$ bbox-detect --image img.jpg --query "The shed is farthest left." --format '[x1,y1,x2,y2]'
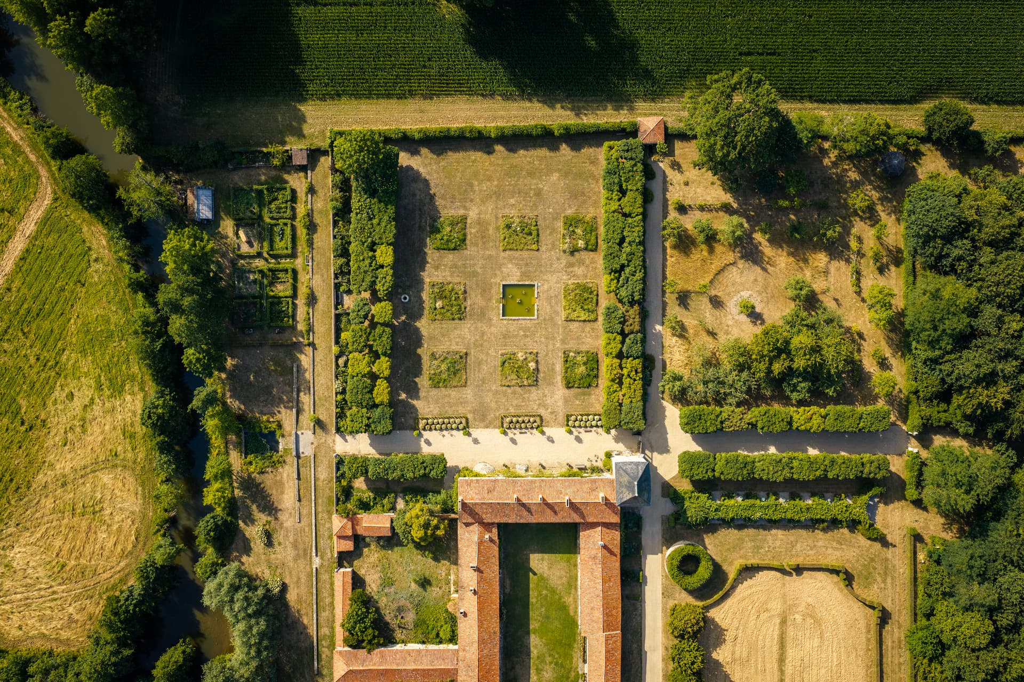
[188,186,219,222]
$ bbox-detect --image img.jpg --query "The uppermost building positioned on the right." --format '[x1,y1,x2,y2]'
[637,116,665,147]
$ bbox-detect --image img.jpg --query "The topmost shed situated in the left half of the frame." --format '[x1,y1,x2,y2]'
[292,148,310,167]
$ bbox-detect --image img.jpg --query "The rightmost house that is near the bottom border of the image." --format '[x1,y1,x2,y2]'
[457,456,652,682]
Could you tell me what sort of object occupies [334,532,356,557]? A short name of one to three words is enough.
shed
